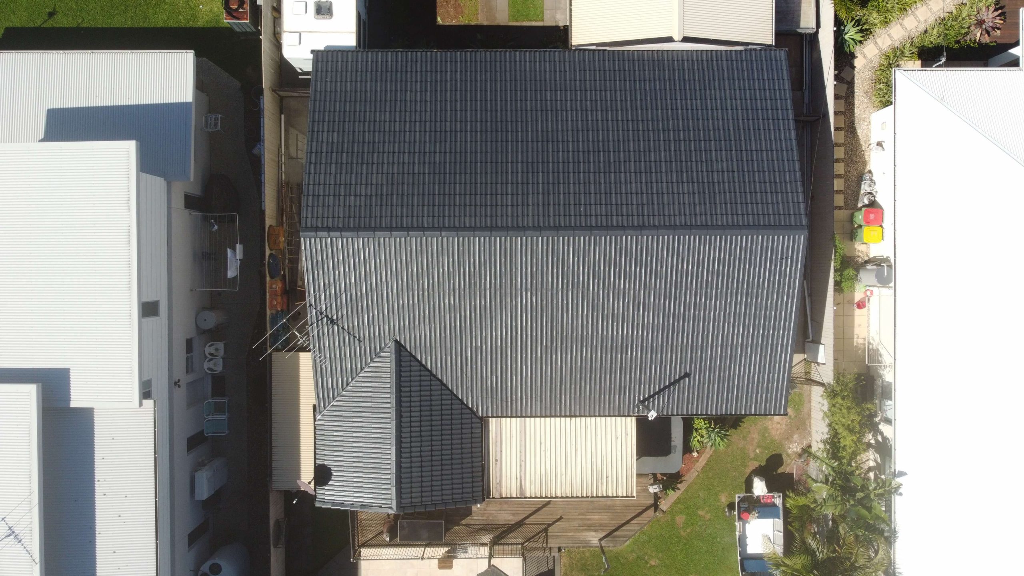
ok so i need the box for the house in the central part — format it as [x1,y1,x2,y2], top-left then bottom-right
[298,46,807,514]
